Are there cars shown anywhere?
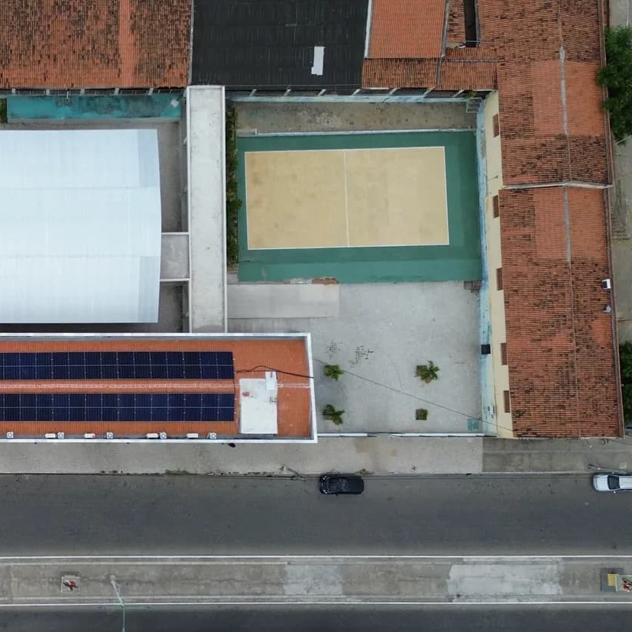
Yes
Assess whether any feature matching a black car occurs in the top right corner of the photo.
No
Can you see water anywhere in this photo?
No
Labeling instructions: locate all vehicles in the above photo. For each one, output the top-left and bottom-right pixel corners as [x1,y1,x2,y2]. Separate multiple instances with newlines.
[320,473,368,497]
[594,472,632,497]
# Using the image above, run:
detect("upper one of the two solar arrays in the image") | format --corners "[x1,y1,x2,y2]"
[0,351,238,380]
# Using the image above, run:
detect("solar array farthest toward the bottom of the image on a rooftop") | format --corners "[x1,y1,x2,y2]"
[0,393,239,422]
